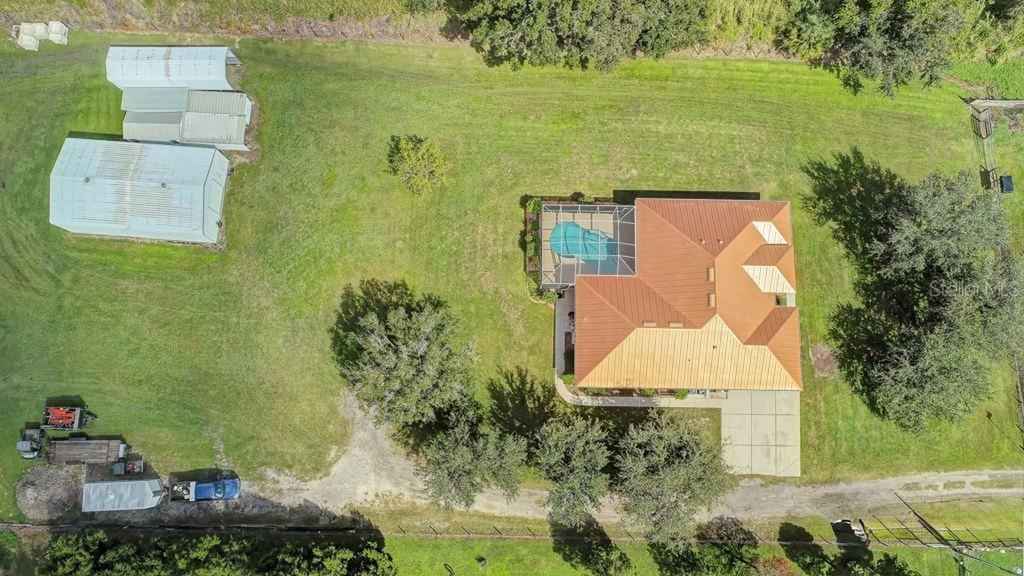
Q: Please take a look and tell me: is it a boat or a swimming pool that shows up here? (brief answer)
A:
swimming pool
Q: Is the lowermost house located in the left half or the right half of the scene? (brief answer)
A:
right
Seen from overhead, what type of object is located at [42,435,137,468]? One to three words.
trailer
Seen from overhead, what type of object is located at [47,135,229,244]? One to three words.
barn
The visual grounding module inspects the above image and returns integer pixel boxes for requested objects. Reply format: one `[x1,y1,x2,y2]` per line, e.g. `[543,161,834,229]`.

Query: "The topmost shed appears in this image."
[103,45,238,93]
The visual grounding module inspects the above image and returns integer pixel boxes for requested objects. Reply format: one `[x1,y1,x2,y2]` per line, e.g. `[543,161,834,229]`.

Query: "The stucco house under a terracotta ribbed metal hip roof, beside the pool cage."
[574,199,804,391]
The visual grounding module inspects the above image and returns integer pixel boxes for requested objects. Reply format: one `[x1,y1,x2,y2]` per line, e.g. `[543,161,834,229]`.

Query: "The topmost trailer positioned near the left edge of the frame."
[38,404,100,433]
